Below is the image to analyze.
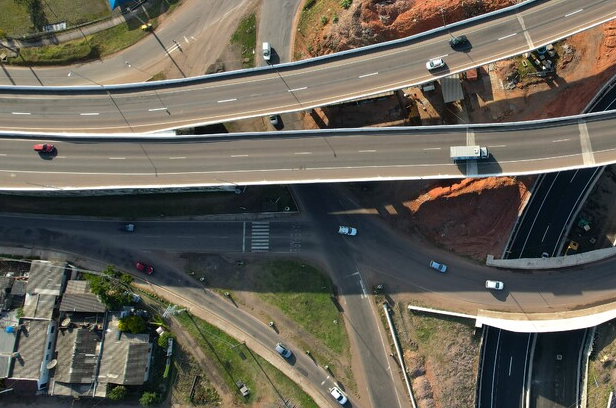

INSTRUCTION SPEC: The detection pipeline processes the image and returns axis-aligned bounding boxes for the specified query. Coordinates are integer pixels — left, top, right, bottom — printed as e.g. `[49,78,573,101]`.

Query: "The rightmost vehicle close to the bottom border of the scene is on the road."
[329,386,348,405]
